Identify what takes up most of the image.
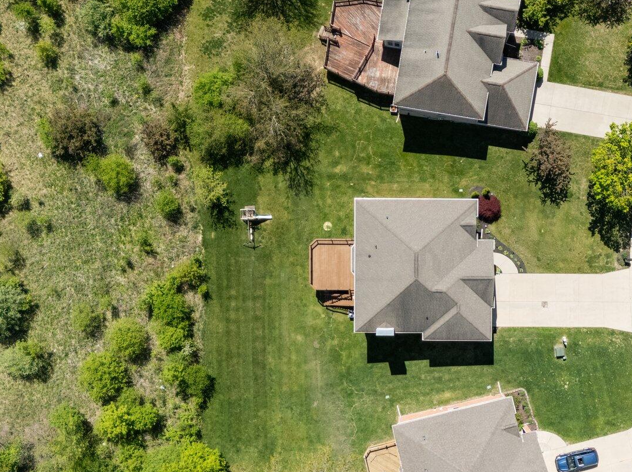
grass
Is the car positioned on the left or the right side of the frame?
right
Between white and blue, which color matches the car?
blue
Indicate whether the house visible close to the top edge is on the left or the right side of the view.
right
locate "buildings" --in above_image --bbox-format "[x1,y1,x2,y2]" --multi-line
[391,382,549,472]
[377,0,540,133]
[350,198,495,341]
